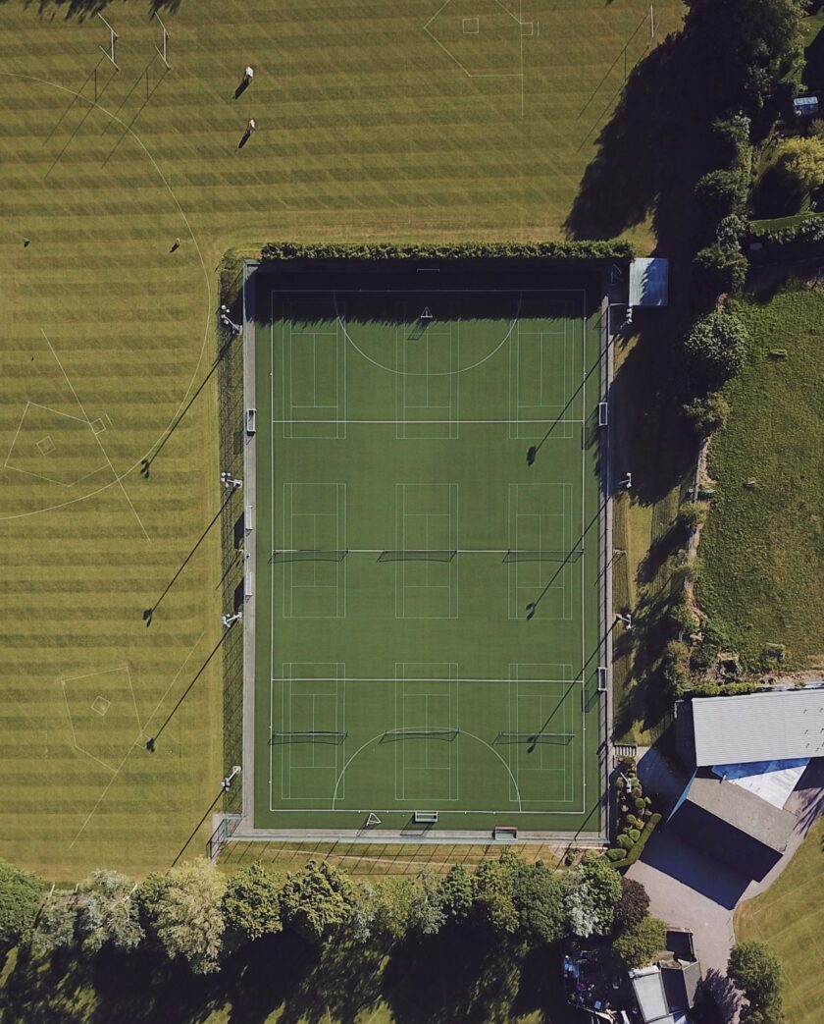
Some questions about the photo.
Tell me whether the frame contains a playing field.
Yes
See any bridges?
No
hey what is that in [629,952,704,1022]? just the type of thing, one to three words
house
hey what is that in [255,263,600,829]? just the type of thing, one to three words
sports field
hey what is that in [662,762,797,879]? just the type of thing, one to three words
building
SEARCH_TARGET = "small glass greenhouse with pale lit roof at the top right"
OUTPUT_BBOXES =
[792,92,822,114]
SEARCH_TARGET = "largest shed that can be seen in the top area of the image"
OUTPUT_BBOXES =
[627,259,668,308]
